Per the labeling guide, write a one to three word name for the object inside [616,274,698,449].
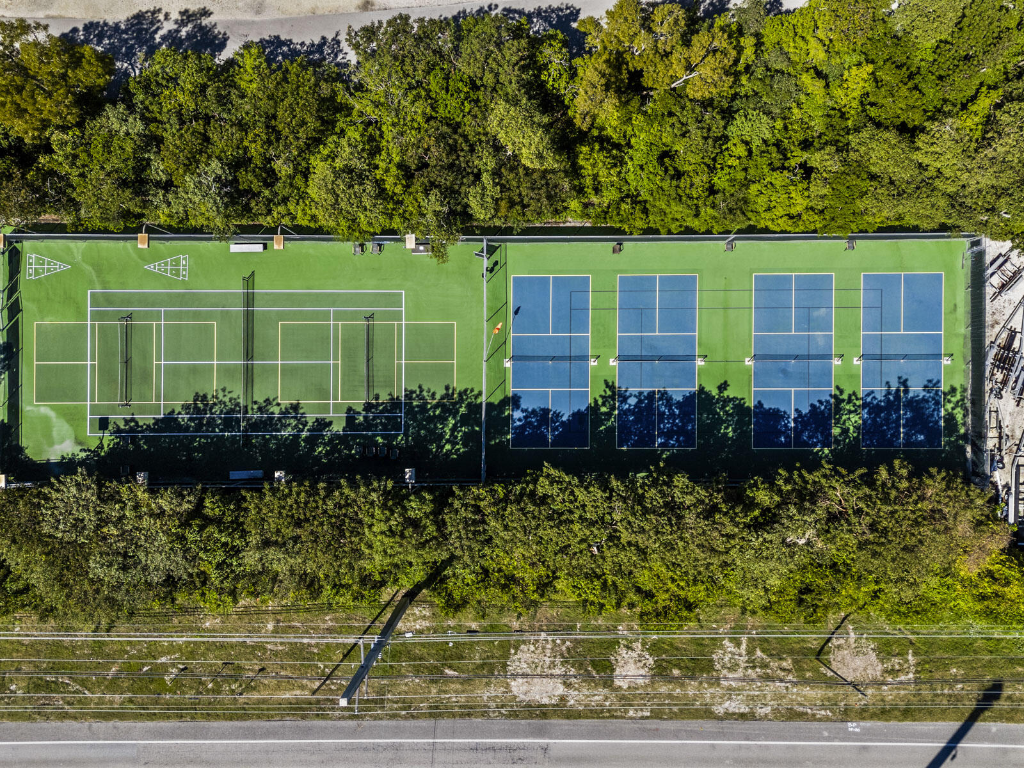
sports court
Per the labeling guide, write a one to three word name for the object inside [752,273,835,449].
sports court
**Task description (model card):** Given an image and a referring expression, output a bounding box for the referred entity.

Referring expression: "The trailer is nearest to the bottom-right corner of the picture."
[1003,430,1024,526]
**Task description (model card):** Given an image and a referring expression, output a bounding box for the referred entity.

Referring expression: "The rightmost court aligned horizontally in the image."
[569,289,882,436]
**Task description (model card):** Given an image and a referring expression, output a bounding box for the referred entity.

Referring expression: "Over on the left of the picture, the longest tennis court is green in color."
[87,290,404,435]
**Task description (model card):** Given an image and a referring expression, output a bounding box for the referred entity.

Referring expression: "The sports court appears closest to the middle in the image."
[511,275,591,448]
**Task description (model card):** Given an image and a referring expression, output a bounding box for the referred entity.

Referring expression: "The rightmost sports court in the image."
[861,272,944,449]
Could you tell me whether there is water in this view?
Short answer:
No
